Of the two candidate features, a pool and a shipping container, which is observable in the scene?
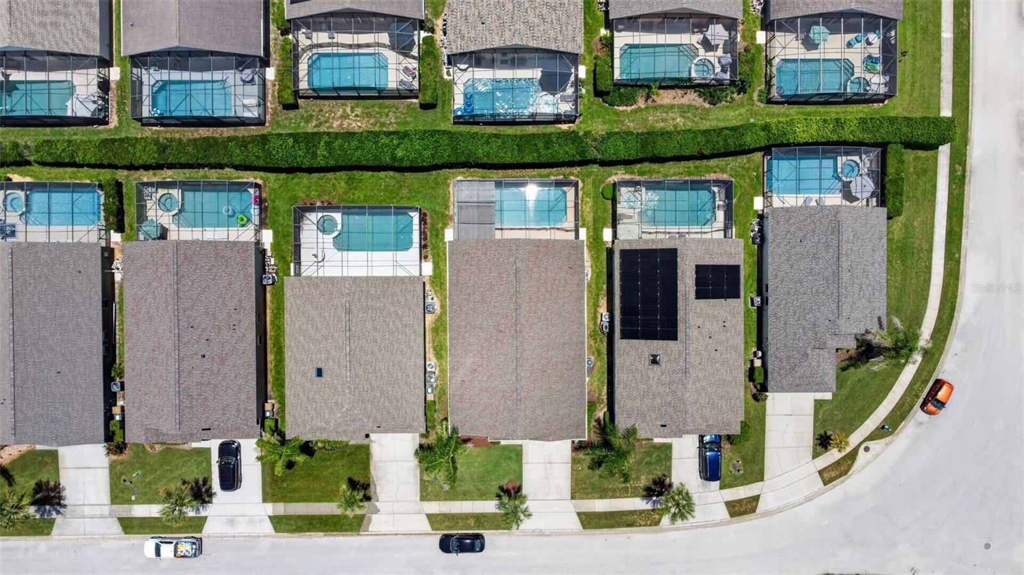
pool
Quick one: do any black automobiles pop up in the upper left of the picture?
No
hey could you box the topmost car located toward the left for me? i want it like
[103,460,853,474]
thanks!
[215,443,241,489]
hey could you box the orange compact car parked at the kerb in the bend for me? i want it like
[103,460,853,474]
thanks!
[921,377,958,416]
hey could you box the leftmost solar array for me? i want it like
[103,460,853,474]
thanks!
[620,249,678,342]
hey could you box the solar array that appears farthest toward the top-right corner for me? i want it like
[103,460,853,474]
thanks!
[696,264,741,299]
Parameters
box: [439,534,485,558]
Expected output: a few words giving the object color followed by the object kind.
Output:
black car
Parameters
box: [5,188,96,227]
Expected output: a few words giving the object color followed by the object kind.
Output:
blue swimming pool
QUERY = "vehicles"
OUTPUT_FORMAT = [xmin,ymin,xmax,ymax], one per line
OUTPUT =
[921,377,958,416]
[439,534,485,558]
[702,437,726,480]
[142,538,201,564]
[215,443,241,489]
